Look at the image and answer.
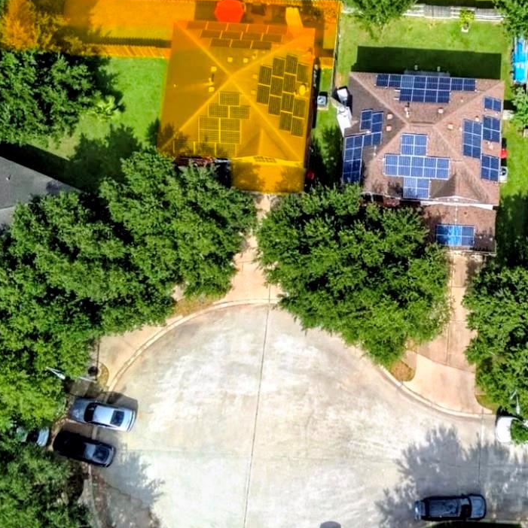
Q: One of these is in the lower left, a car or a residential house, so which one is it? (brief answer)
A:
car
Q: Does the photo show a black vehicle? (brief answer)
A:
Yes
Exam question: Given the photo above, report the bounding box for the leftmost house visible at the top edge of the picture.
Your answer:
[156,8,319,198]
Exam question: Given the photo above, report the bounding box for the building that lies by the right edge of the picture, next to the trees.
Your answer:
[340,66,506,254]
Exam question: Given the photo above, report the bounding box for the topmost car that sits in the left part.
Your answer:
[67,396,136,430]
